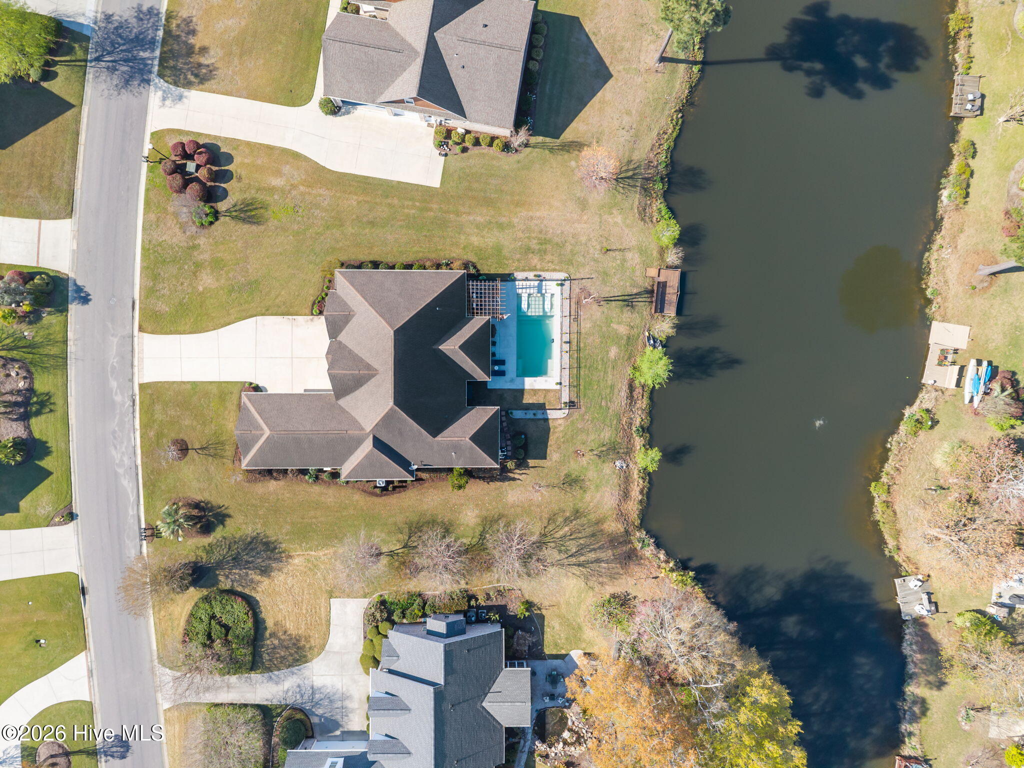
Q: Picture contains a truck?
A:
No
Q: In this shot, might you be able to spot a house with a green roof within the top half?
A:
No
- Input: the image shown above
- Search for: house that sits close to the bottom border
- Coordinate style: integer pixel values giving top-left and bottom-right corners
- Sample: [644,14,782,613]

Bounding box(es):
[284,614,531,768]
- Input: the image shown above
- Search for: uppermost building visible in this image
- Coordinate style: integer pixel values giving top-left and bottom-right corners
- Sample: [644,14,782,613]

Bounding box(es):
[322,0,535,133]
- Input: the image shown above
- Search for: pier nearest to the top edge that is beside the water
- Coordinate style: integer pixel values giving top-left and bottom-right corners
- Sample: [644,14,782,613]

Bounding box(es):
[945,75,982,119]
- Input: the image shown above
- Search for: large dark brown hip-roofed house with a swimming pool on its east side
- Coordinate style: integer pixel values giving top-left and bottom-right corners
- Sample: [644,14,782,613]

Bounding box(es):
[232,270,500,481]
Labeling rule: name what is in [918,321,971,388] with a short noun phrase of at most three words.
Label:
pier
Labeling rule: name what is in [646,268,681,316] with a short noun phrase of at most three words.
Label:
pier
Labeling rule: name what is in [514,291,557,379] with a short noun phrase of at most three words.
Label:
swimming pool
